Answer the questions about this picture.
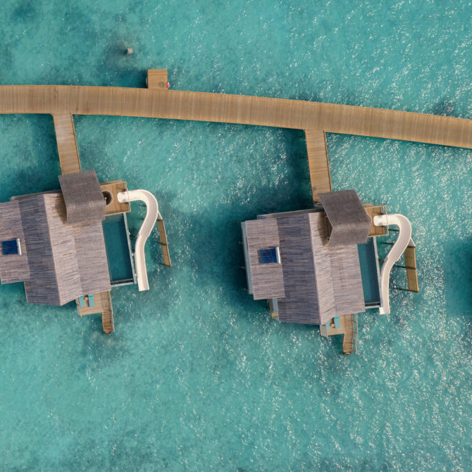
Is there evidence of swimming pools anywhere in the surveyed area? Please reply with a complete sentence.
Yes, looking at the shot, I can spot a swimming pool.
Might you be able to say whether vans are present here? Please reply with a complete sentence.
No, I find no van anywhere in the image.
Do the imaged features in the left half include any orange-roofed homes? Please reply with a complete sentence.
No, I can find no orange-roofed home in the left half.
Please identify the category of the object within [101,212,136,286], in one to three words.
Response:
swimming pool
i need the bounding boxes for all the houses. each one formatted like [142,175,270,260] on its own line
[0,169,131,333]
[234,190,389,355]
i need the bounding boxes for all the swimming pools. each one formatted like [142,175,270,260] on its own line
[101,212,136,286]
[359,238,382,307]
